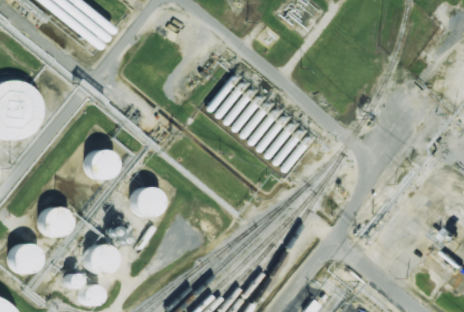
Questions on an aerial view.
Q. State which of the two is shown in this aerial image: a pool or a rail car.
rail car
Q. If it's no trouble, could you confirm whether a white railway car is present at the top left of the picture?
No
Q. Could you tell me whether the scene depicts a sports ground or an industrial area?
industrial area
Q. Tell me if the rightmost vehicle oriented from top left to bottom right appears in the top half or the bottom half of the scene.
bottom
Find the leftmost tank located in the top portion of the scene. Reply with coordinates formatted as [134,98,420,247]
[0,79,46,142]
